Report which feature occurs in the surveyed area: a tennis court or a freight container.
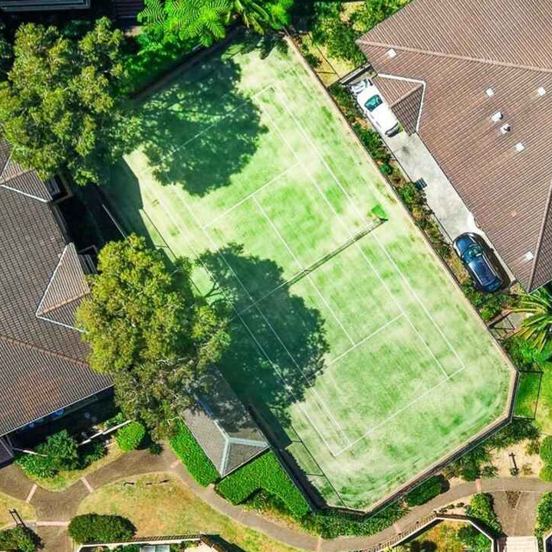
tennis court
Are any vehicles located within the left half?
No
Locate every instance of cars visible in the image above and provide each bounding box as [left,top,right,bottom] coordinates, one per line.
[350,77,401,139]
[454,230,504,297]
